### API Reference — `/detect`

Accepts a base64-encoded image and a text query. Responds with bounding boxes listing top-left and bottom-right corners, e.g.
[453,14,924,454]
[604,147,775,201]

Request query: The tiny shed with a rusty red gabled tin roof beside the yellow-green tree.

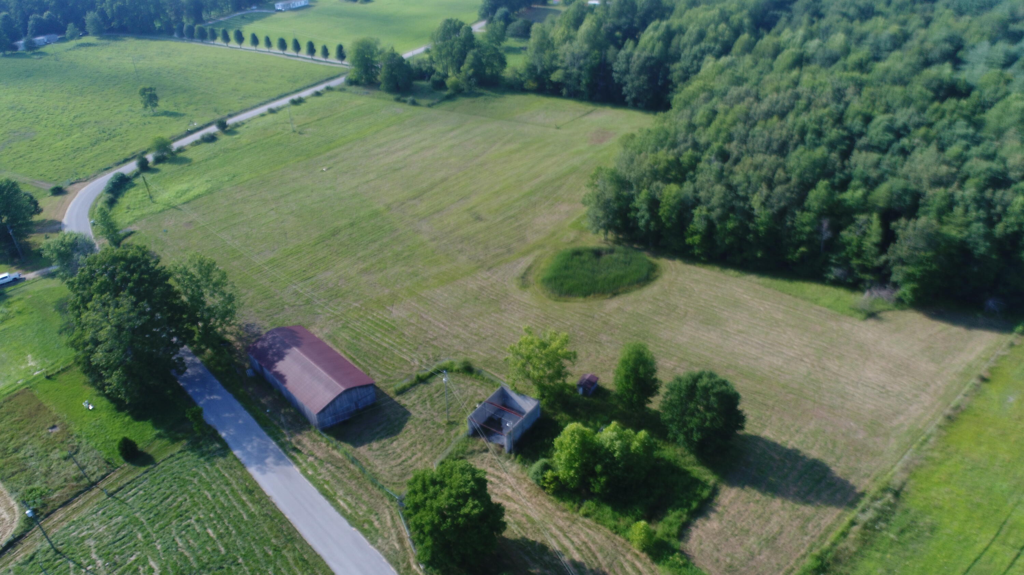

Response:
[575,373,601,397]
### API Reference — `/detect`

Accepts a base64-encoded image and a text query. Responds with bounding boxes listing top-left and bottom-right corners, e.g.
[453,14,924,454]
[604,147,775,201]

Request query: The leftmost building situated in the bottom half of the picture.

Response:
[248,324,376,430]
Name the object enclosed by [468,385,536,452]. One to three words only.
building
